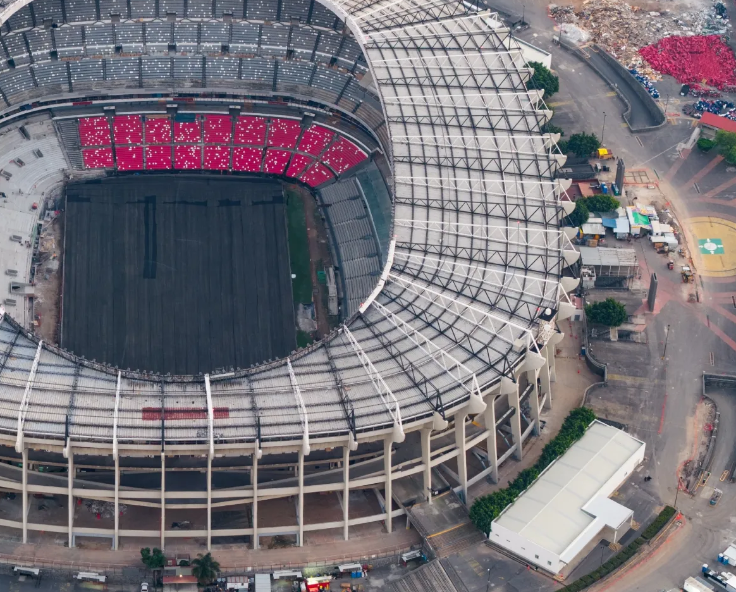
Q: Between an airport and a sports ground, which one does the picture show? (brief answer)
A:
sports ground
